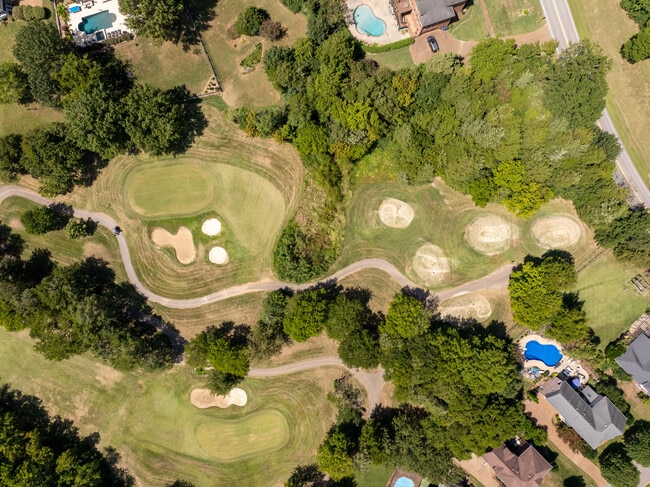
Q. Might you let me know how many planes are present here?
0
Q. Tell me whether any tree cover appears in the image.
Yes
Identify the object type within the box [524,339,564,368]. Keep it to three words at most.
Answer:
swimming pool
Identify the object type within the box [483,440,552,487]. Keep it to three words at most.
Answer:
house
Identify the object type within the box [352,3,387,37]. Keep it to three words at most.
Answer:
swimming pool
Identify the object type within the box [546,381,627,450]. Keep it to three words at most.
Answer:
house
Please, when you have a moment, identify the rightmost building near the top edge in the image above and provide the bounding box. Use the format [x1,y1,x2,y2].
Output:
[413,0,467,35]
